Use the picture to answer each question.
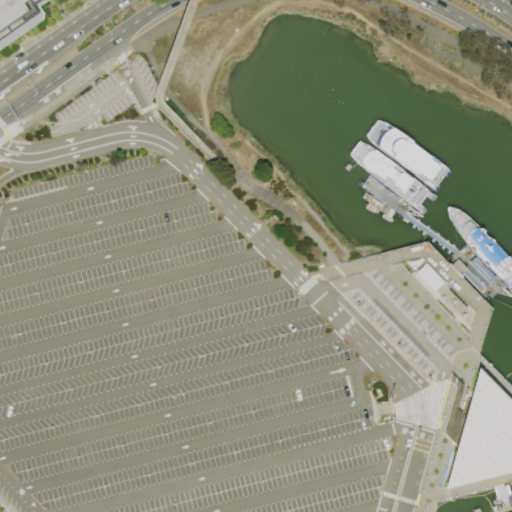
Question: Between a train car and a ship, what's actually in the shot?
ship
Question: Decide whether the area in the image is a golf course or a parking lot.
parking lot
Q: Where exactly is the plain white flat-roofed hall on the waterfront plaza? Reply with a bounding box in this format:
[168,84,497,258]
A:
[417,262,445,292]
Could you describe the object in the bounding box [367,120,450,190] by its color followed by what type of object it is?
white ship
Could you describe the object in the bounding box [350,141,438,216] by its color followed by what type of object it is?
white ship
